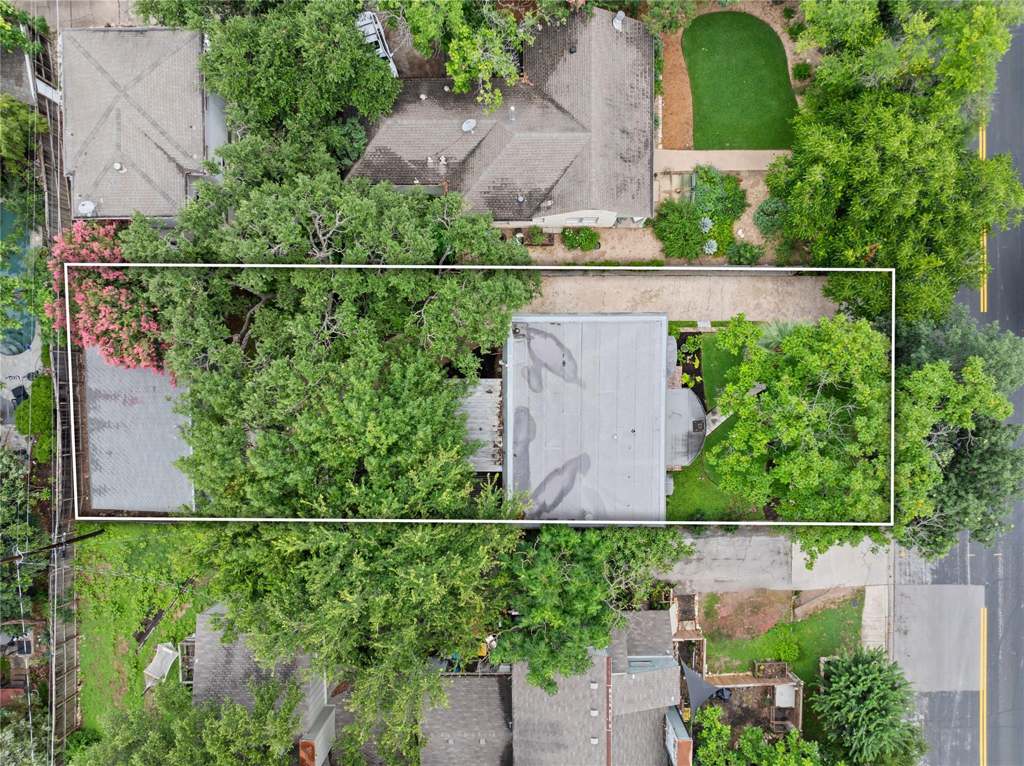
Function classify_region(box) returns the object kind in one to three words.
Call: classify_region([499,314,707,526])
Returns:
house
